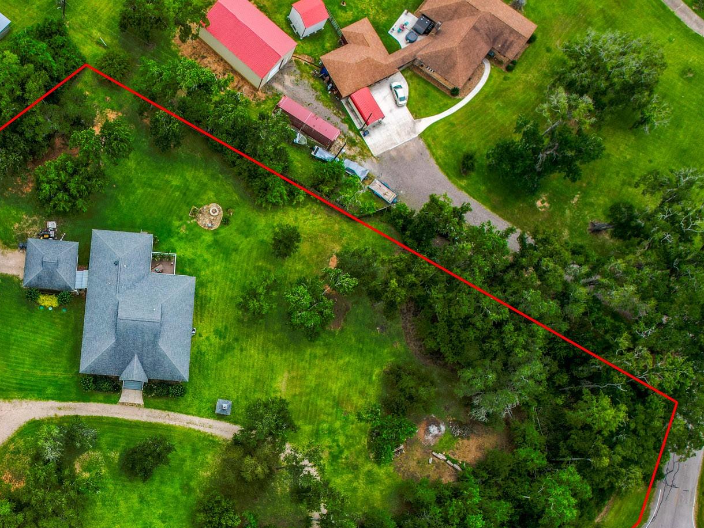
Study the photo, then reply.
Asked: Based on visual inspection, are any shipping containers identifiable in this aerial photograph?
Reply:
Yes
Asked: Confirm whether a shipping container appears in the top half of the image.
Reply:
Yes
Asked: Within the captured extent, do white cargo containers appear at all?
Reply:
No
